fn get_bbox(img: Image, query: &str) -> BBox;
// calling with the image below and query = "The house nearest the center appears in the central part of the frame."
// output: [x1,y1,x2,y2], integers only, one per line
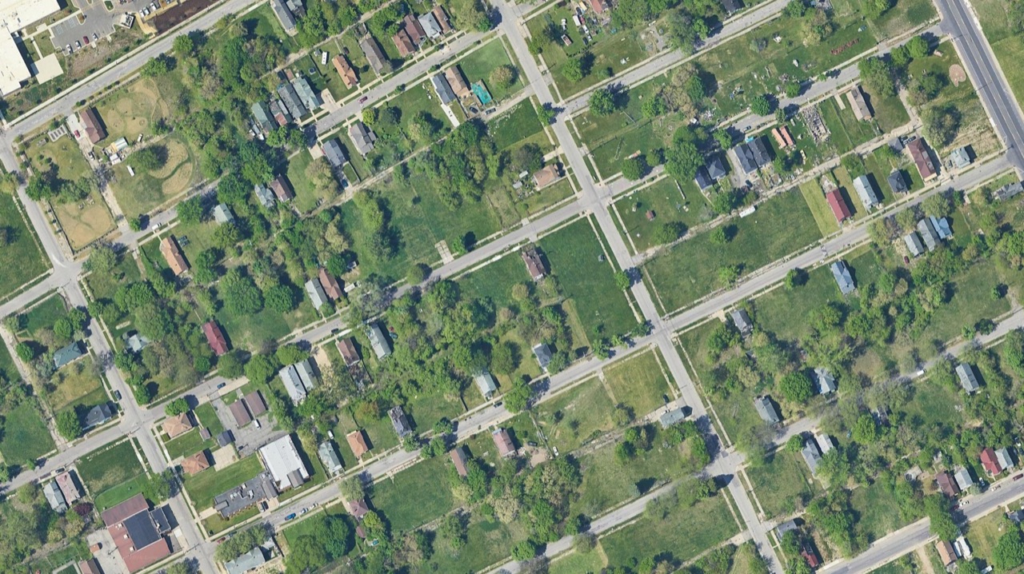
[520,244,546,283]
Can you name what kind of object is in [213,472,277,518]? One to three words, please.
building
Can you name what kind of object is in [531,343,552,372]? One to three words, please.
house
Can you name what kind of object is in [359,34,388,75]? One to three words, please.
house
